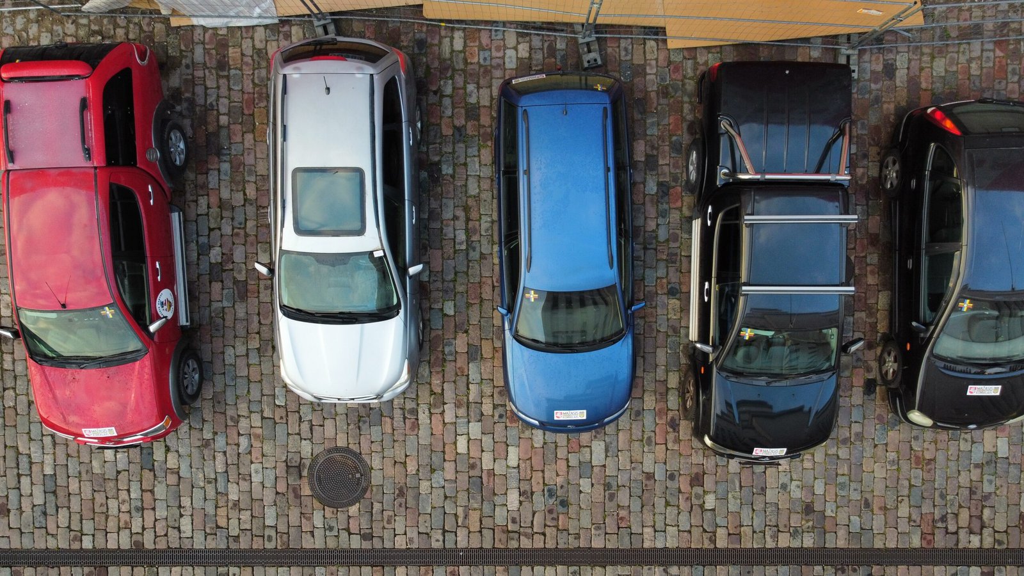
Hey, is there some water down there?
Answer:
No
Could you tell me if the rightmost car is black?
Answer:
Yes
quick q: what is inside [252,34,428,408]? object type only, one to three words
car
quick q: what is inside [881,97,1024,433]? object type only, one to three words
car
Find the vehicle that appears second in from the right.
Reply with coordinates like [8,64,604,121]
[687,61,868,465]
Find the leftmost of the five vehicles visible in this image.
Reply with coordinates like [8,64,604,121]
[0,41,205,454]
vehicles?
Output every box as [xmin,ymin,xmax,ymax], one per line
[0,41,205,454]
[492,64,647,434]
[881,97,1024,433]
[252,34,428,408]
[687,61,868,465]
